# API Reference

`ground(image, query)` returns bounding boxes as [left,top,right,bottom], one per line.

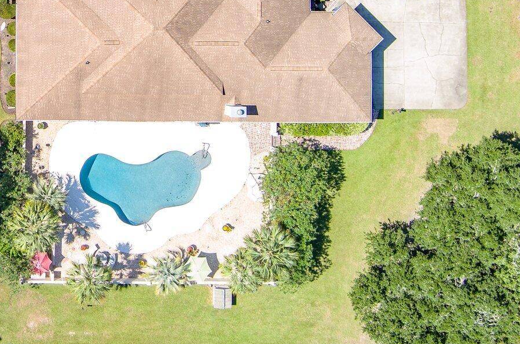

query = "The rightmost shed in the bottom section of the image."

[210,284,232,310]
